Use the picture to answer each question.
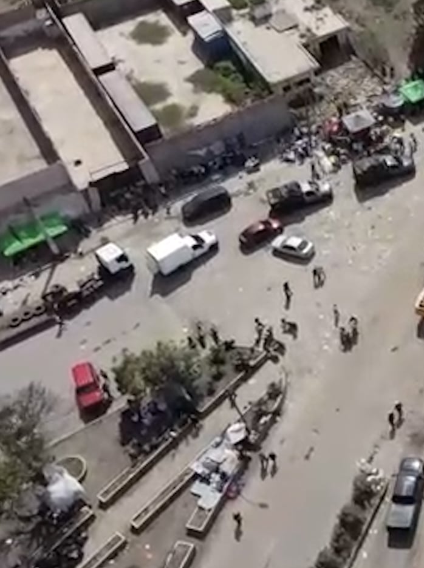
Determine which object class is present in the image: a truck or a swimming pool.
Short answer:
truck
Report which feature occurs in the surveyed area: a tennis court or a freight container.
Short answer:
freight container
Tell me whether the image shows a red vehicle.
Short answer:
Yes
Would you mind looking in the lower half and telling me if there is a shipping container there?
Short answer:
No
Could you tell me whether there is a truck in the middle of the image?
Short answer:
Yes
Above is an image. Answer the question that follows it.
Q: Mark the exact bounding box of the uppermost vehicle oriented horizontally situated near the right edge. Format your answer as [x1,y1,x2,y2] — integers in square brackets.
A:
[348,148,419,189]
